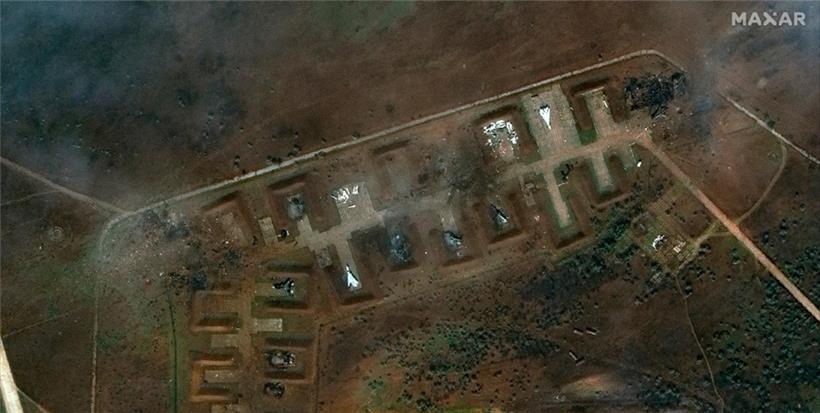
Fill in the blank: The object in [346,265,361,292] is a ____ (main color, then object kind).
white airplane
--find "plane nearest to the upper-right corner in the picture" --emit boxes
[538,104,552,130]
